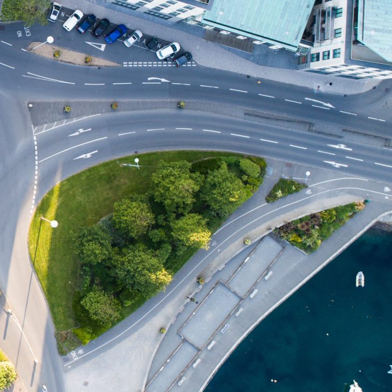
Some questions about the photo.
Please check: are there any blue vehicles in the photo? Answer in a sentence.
Yes, I can see a blue vehicle in this picture.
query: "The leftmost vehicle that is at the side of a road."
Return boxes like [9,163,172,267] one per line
[48,0,63,22]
